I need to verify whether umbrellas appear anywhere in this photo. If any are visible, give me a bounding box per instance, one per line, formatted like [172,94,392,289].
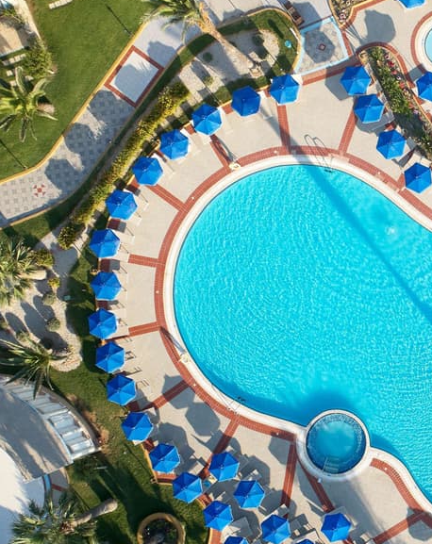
[397,0,425,11]
[107,371,139,404]
[90,307,121,339]
[191,103,224,135]
[234,476,265,510]
[419,71,432,102]
[355,92,386,127]
[231,87,263,119]
[206,497,235,531]
[123,408,154,443]
[92,268,126,302]
[96,340,129,375]
[262,510,291,544]
[135,155,164,187]
[163,130,194,162]
[402,161,432,196]
[270,73,300,107]
[175,470,205,502]
[377,131,408,162]
[209,450,242,482]
[152,440,183,472]
[323,509,353,542]
[223,534,250,544]
[107,187,139,222]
